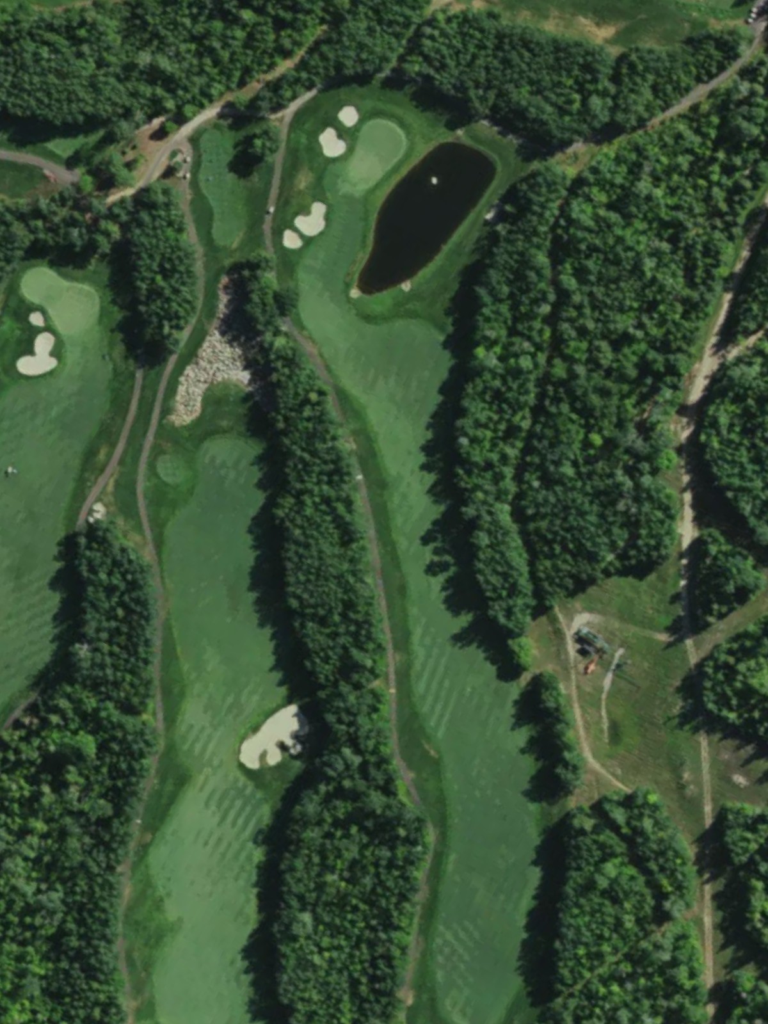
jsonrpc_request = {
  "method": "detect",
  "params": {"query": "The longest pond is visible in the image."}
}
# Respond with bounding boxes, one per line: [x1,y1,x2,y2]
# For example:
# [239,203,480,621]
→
[357,141,497,294]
